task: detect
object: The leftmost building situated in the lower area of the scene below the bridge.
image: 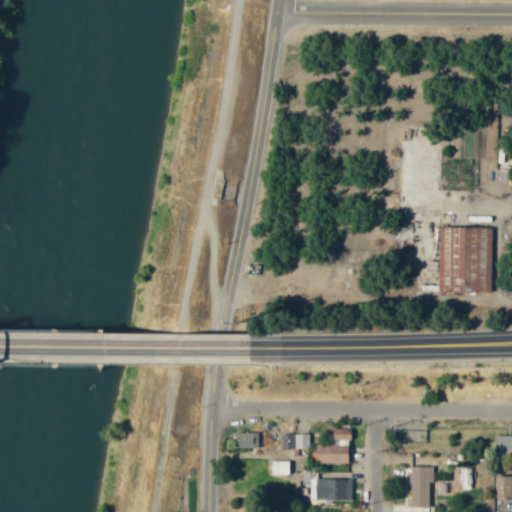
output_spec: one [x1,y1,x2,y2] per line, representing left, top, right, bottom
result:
[234,433,260,453]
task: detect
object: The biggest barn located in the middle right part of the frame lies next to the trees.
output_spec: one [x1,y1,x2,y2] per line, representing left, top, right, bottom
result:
[440,228,493,292]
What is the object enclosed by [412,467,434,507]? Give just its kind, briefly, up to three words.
house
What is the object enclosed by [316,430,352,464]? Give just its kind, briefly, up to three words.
house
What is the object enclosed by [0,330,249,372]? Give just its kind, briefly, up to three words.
bridge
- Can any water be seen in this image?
Yes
